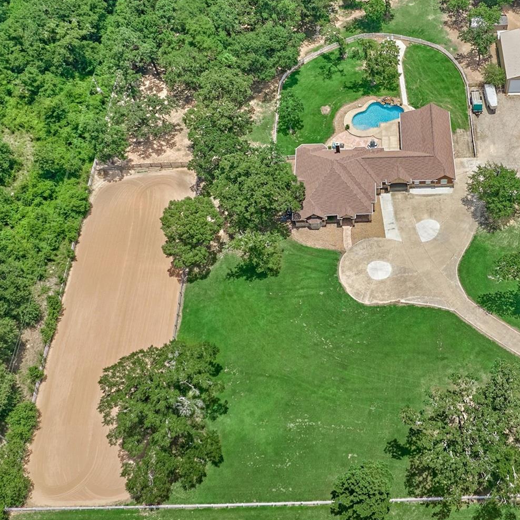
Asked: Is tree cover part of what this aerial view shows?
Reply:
Yes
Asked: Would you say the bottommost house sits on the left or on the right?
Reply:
right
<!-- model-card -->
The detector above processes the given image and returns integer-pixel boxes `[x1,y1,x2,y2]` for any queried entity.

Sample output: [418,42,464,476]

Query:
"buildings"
[500,28,520,97]
[486,7,511,27]
[289,104,456,231]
